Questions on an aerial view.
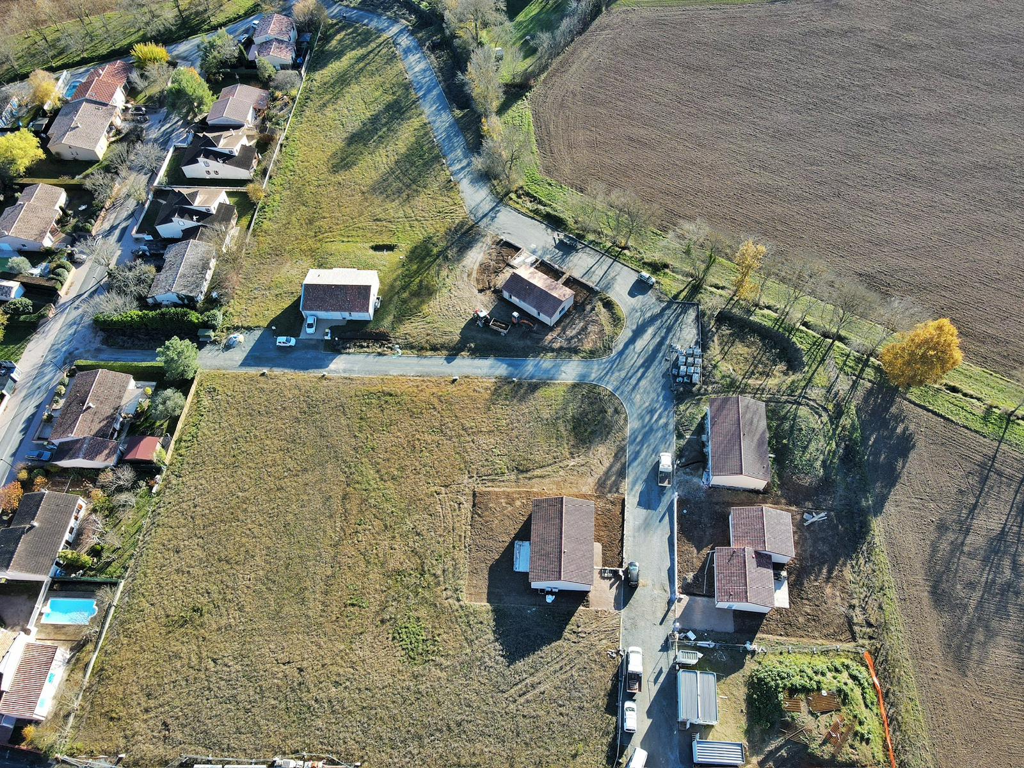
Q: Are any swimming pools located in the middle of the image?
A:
No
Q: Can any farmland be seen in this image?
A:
Yes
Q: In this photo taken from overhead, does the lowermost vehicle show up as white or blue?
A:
white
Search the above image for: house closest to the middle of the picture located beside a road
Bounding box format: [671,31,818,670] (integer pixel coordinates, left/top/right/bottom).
[502,264,574,332]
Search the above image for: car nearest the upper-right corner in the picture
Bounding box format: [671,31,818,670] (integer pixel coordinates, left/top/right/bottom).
[636,270,658,287]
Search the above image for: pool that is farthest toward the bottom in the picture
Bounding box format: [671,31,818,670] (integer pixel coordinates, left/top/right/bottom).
[40,599,99,624]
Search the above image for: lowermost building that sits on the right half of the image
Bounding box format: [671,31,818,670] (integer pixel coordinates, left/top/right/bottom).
[691,740,744,763]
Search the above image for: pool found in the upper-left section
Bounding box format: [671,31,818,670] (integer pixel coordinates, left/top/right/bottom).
[64,82,79,97]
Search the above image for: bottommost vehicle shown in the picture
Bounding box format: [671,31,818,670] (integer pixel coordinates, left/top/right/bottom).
[628,745,649,768]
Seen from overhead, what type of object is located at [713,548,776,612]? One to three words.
house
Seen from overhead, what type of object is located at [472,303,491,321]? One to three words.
work vehicle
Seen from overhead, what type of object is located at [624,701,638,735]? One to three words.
car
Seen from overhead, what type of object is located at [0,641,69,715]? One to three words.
house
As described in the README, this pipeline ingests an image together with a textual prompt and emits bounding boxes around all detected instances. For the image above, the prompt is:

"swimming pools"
[64,82,79,97]
[40,599,99,624]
